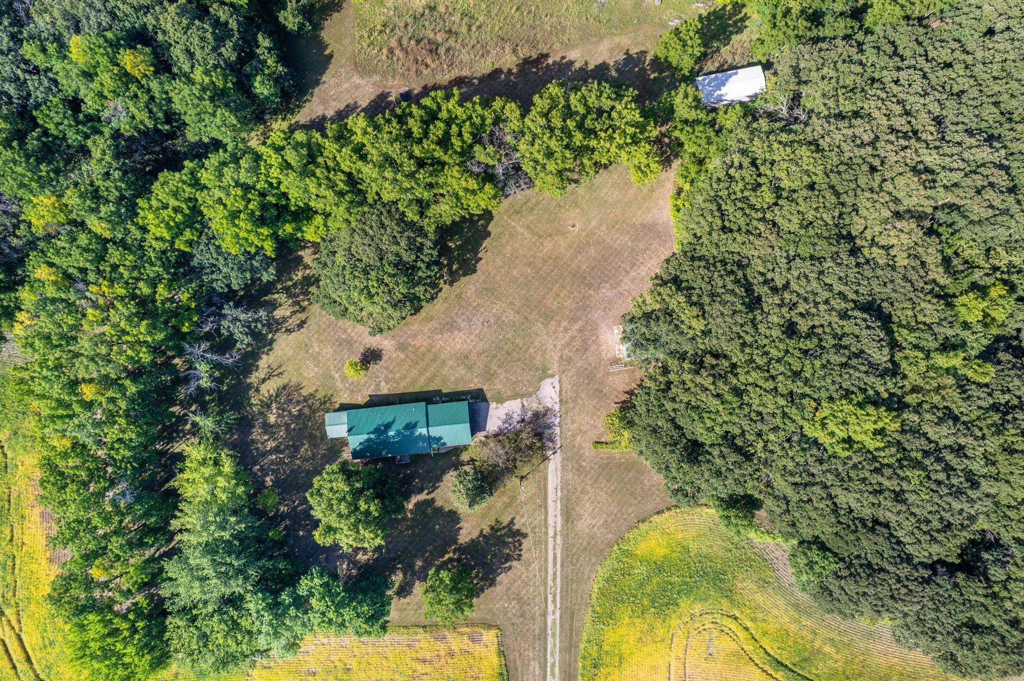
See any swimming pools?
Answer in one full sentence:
No, there is no swimming pool in the image.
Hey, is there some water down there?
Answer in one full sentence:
No, the picture contains no water.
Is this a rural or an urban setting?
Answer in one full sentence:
This place is rural.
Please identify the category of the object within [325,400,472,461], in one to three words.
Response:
house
